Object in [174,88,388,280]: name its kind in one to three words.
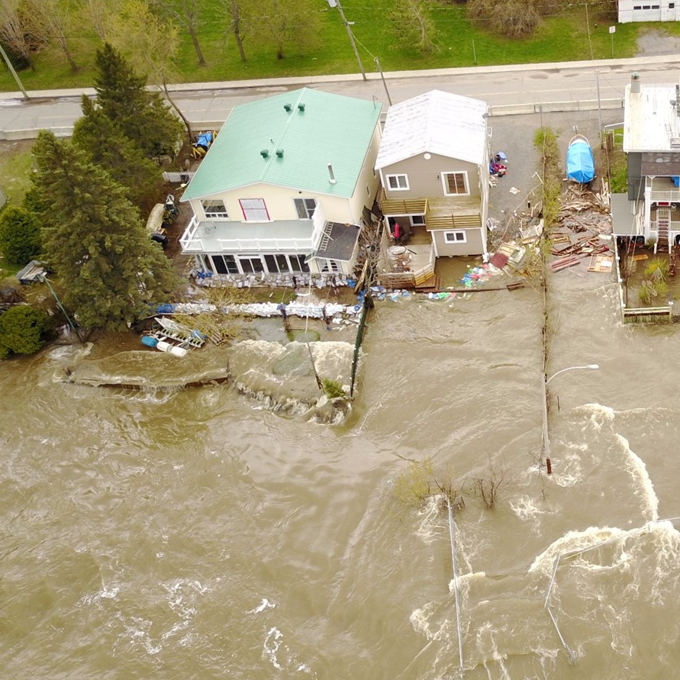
house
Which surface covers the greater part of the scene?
water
